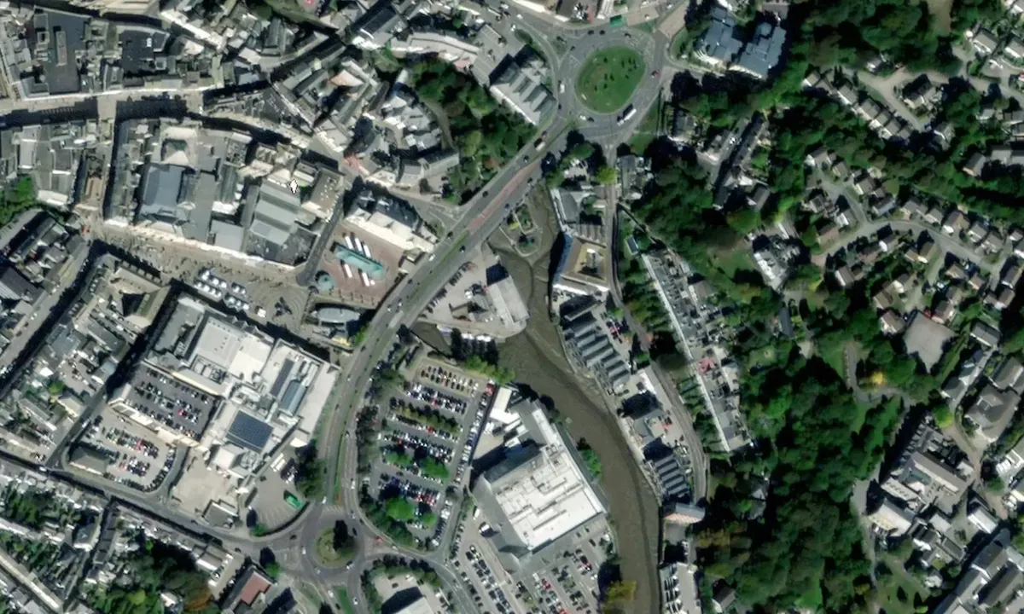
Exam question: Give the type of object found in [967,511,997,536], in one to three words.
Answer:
house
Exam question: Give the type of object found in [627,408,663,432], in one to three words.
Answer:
building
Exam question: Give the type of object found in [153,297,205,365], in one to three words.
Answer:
building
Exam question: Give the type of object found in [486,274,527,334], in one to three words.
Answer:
shed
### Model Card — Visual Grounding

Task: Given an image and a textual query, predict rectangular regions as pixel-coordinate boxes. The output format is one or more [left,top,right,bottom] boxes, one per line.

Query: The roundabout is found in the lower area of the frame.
[301,511,370,581]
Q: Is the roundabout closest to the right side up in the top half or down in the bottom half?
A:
top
